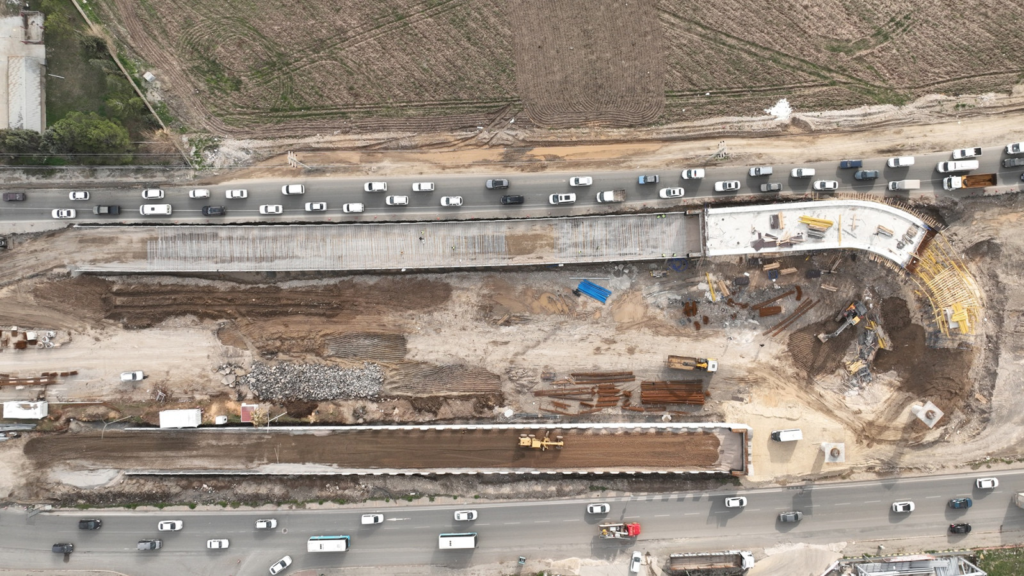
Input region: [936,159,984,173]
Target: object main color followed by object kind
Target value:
white vehicle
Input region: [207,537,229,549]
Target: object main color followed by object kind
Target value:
white vehicle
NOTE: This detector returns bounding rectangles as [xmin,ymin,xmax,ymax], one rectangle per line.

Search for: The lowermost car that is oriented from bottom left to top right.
[268,555,292,576]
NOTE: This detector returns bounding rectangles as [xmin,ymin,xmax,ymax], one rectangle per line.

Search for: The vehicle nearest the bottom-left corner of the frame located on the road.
[52,542,75,554]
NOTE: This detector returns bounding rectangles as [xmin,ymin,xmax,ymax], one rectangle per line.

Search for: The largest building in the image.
[7,55,45,136]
